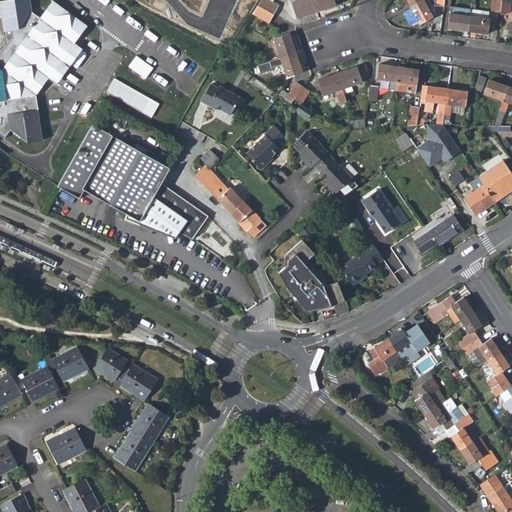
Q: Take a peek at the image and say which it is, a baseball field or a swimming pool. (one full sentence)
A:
Of the two, only a swimming pool appears.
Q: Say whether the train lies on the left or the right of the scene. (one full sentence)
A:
The train appears in the left half of the scene.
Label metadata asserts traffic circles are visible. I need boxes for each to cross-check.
[242,350,296,404]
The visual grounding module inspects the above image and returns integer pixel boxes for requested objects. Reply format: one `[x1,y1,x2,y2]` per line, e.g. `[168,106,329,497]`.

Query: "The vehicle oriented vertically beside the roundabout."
[309,348,325,392]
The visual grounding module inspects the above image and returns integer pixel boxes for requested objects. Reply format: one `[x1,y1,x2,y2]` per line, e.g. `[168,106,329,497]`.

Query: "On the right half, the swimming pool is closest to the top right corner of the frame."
[402,8,420,28]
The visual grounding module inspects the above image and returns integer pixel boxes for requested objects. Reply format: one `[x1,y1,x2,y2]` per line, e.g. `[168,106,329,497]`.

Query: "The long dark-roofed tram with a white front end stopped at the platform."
[0,236,58,267]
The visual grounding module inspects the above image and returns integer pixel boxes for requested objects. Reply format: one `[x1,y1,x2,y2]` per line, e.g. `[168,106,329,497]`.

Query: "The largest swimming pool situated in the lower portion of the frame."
[412,352,438,378]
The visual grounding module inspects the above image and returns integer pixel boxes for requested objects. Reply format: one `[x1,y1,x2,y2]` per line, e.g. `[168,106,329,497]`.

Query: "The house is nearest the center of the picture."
[240,212,266,238]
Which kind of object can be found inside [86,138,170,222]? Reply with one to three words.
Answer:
building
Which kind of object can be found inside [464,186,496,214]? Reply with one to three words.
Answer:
house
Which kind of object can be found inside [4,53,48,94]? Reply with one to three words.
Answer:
shed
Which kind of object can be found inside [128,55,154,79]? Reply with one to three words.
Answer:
building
